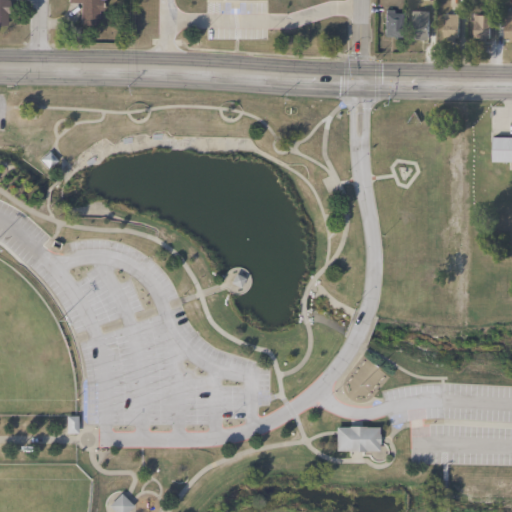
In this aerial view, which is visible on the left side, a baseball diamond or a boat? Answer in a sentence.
Looking on the left side, you will find a baseball diamond.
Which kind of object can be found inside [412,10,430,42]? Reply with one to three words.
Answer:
house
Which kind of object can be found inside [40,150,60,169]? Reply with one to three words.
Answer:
gazebo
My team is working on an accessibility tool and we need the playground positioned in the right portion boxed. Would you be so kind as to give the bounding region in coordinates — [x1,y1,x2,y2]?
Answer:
[344,358,389,402]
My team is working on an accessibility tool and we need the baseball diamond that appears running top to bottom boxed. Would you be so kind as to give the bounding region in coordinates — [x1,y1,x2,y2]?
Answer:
[0,259,77,416]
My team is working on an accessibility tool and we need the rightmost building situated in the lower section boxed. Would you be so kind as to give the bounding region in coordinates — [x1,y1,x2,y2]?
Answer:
[338,426,382,454]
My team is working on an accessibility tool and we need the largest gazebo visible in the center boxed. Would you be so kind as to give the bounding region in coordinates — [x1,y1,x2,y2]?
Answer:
[232,272,248,288]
